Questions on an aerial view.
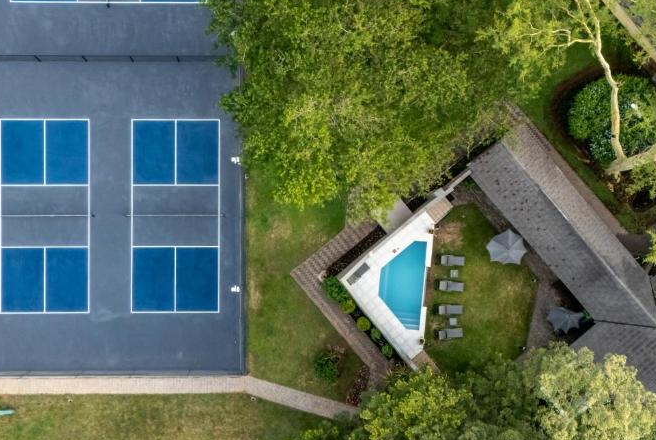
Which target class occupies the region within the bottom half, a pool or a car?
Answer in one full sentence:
What appears within the bottom half is a pool.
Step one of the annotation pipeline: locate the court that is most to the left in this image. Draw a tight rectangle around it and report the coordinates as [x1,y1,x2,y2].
[0,119,90,314]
